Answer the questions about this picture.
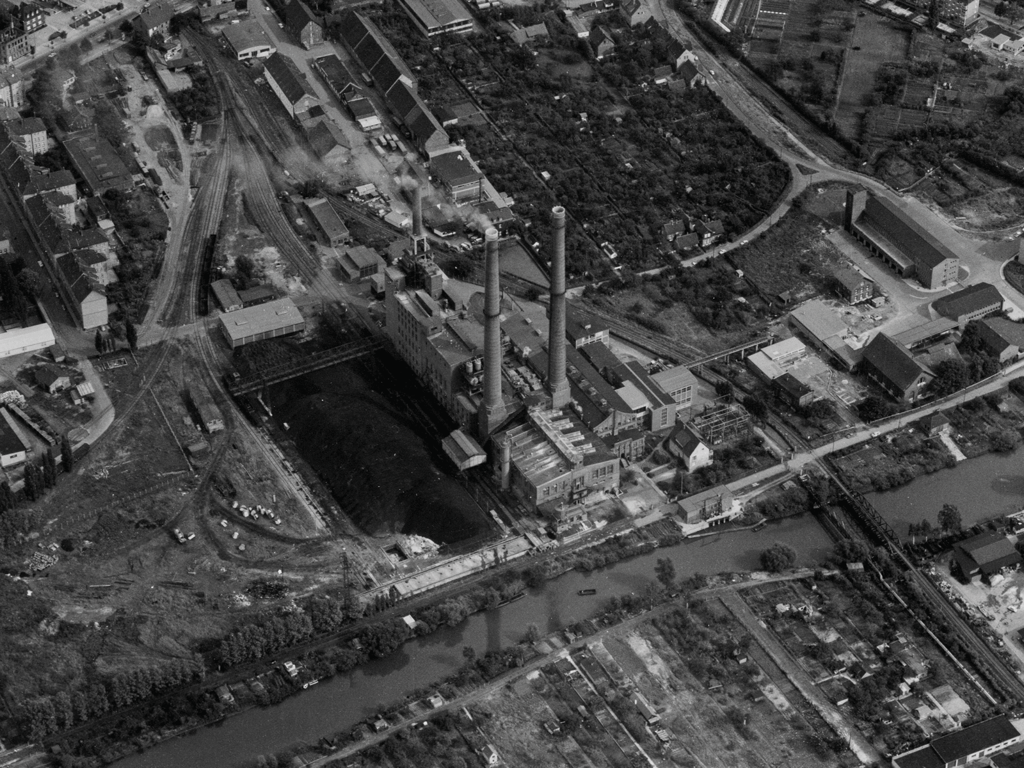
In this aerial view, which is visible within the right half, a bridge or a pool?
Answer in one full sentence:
Visible within the right half is a bridge.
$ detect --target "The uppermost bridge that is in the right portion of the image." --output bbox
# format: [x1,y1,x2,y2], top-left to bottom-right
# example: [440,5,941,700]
[684,336,773,373]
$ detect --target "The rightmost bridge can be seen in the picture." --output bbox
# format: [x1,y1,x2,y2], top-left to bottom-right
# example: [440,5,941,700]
[825,474,922,577]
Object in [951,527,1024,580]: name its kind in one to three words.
barn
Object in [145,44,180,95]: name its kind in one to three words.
shed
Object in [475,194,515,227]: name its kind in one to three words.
house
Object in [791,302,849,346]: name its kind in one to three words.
building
